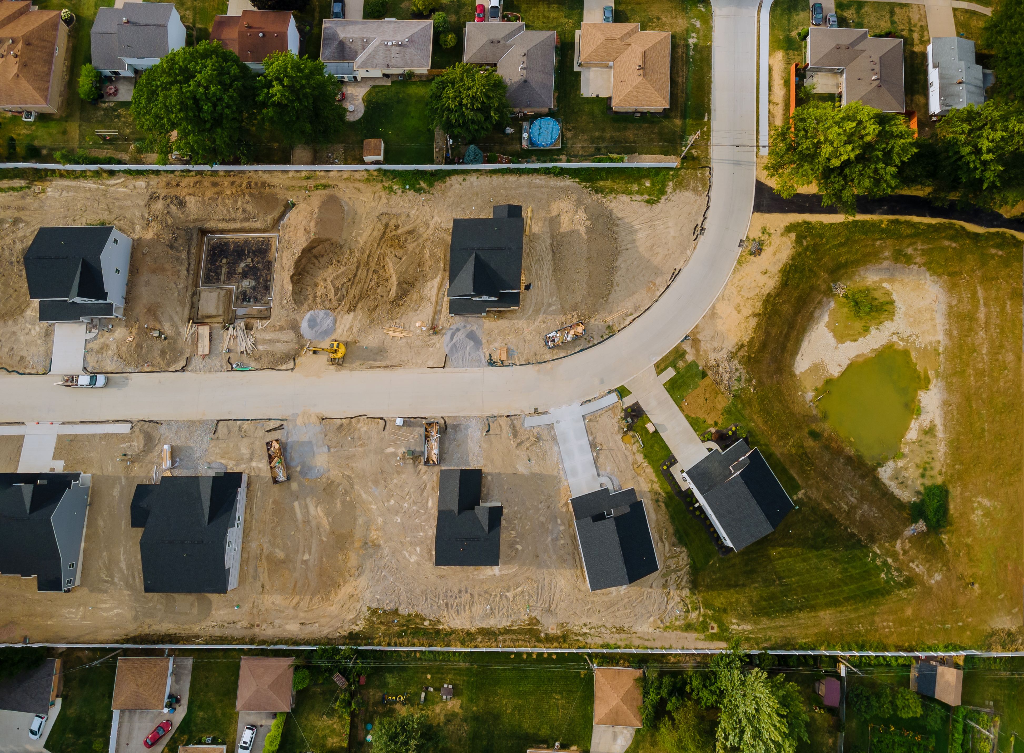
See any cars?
Yes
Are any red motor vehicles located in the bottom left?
Yes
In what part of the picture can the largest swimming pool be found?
top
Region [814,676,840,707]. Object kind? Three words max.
shed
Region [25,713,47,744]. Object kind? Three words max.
car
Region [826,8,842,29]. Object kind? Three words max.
car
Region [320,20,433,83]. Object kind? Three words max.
house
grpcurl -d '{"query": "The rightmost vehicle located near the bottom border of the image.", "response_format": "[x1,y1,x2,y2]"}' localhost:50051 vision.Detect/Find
[235,724,256,753]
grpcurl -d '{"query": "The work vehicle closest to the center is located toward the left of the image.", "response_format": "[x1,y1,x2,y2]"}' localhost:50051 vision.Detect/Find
[298,341,349,368]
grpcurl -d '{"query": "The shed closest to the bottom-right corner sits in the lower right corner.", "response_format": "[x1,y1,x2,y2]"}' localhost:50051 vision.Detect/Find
[906,659,963,706]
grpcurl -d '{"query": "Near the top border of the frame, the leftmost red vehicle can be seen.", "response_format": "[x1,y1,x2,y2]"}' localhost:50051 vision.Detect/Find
[473,1,486,23]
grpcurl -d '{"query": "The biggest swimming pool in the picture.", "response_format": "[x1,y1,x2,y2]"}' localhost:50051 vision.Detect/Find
[530,114,560,146]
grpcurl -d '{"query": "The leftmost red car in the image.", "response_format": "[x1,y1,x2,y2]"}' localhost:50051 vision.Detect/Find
[145,722,174,751]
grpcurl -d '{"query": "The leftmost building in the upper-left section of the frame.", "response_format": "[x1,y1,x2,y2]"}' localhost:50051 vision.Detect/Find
[0,1,71,113]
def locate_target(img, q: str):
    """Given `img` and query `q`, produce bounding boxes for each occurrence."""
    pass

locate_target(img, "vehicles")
[473,1,486,23]
[298,341,349,368]
[235,724,256,753]
[331,0,343,18]
[145,722,174,751]
[811,0,826,27]
[826,8,842,29]
[602,0,615,23]
[488,0,500,22]
[25,713,47,744]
